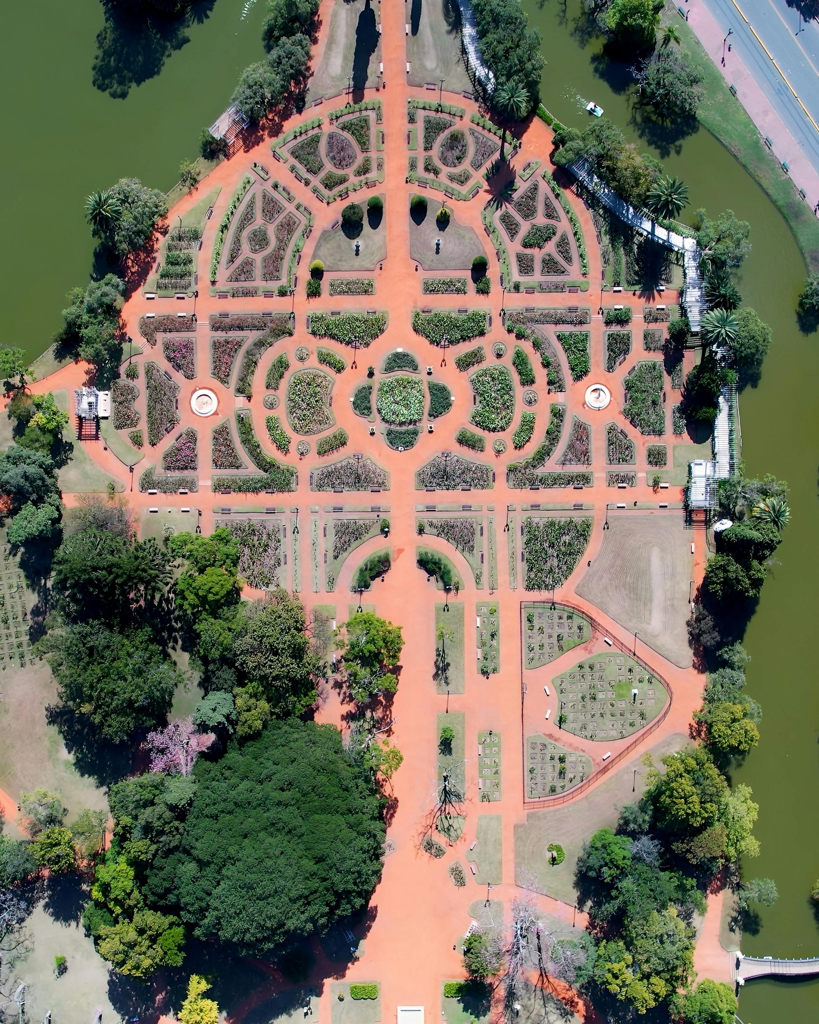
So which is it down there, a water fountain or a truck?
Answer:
water fountain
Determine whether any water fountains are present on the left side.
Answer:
Yes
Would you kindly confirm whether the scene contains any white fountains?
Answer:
Yes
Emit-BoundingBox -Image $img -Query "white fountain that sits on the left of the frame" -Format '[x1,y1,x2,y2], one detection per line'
[190,389,218,416]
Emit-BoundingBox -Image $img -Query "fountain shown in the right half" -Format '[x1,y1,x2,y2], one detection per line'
[584,383,612,410]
